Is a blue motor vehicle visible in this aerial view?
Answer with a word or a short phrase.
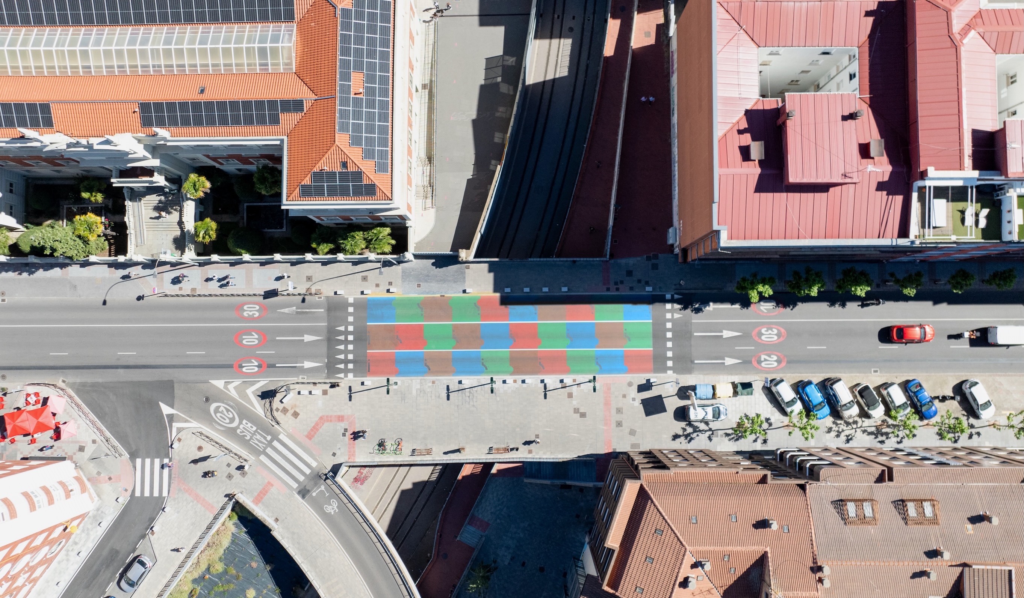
Yes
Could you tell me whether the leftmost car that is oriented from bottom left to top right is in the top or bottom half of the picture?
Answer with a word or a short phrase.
bottom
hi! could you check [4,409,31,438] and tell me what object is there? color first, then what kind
red umbrella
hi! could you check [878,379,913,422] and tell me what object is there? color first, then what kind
white car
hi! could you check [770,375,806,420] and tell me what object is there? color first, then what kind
white car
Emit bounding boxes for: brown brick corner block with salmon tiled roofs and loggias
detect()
[585,449,819,598]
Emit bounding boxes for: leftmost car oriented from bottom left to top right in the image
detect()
[118,549,157,596]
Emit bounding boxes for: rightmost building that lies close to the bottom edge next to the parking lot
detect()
[775,443,1024,598]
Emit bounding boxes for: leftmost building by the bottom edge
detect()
[0,461,93,598]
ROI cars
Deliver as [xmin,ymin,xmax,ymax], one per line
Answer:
[851,379,886,422]
[770,375,806,420]
[118,549,157,596]
[825,374,861,421]
[795,377,831,421]
[887,322,934,345]
[960,376,995,422]
[878,379,913,422]
[682,402,729,425]
[903,376,937,421]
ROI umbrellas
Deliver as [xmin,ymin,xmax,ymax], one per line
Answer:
[48,395,72,414]
[26,405,58,435]
[4,409,31,438]
[59,420,83,440]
